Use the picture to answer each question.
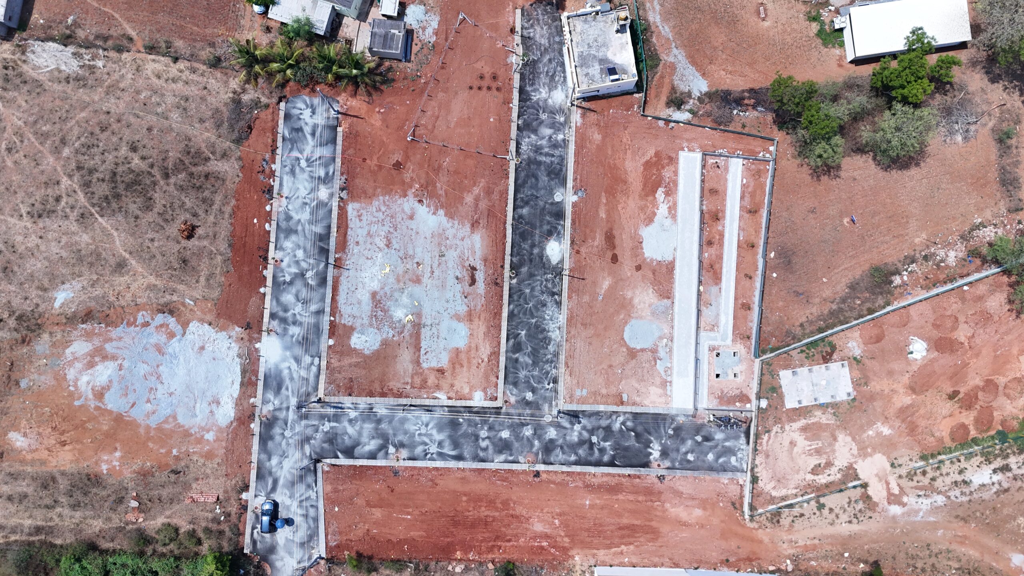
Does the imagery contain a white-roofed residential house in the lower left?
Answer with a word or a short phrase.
No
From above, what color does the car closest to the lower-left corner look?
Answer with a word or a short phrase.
blue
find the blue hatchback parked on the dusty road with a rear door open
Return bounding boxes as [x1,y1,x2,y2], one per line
[257,498,278,535]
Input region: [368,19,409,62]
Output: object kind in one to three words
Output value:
shed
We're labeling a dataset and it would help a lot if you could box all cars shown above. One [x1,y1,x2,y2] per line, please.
[253,0,270,14]
[257,498,278,535]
